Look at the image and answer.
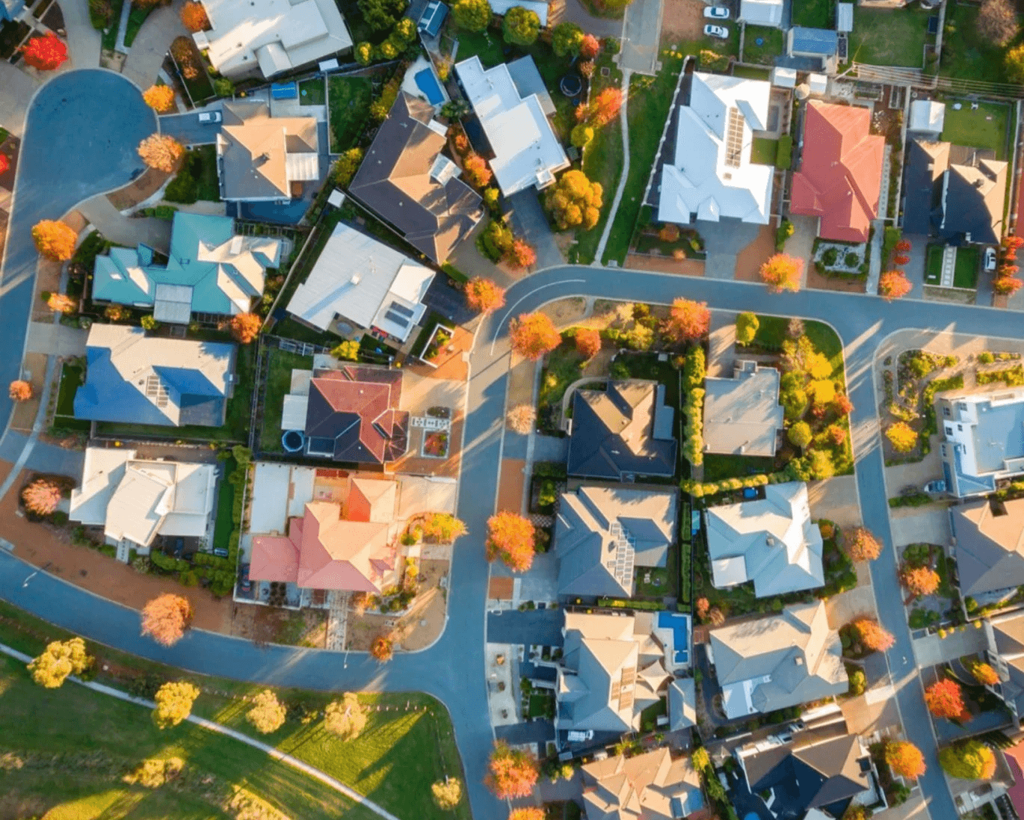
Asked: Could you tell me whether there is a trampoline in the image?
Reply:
Yes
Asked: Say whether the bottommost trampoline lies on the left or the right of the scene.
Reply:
left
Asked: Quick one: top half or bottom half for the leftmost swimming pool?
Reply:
top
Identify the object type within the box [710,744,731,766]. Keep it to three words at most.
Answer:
gazebo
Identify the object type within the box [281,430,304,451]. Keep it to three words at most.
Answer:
trampoline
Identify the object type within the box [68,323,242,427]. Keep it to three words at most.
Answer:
house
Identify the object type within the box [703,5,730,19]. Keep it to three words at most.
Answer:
car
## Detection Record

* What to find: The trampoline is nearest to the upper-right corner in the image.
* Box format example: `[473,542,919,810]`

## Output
[561,74,582,96]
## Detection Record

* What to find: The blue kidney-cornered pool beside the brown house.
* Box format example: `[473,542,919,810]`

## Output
[410,63,449,108]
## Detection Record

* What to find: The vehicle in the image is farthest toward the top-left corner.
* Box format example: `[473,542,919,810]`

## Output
[193,110,218,123]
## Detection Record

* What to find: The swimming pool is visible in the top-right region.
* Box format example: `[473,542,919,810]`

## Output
[767,102,782,132]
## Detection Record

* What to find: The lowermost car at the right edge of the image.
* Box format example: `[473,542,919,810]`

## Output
[983,247,997,272]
